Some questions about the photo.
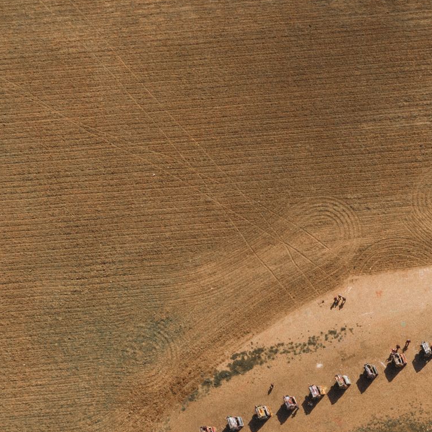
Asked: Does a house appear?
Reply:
No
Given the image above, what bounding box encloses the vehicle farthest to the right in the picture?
[419,339,432,355]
